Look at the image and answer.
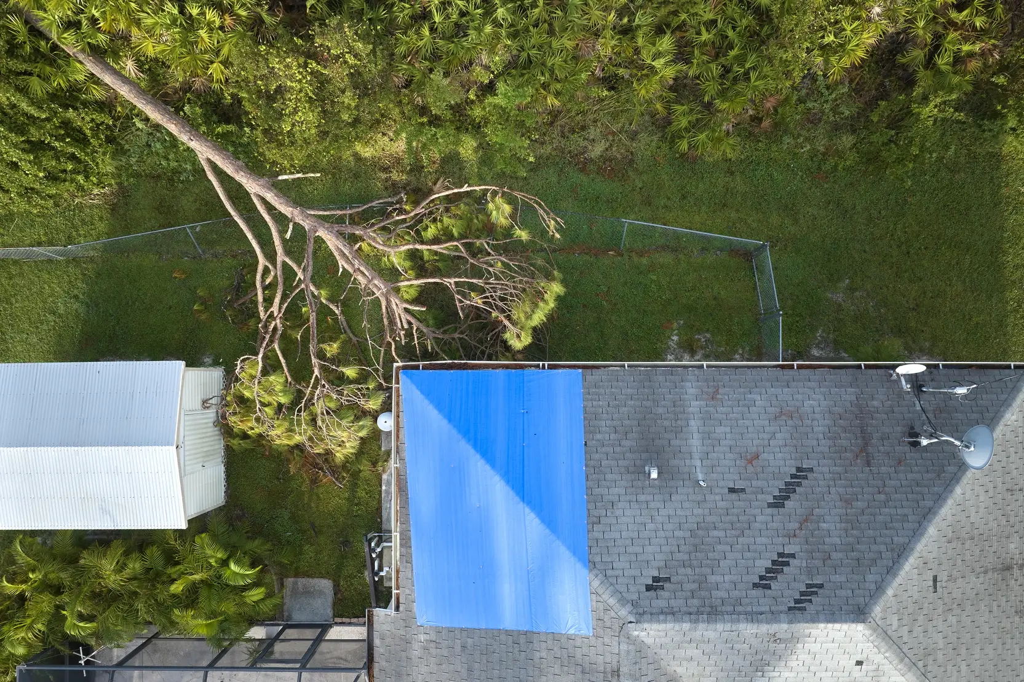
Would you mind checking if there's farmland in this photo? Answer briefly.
No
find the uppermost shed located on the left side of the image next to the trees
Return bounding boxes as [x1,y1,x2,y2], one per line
[0,361,227,531]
